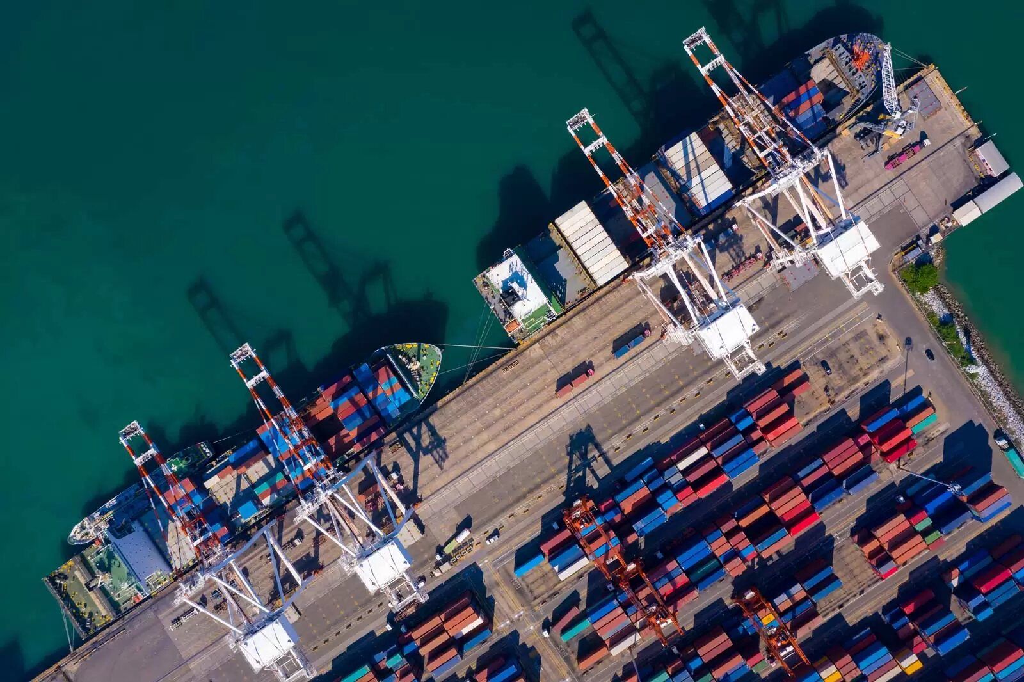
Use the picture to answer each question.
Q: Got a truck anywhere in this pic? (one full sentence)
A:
Yes, there's a truck down there.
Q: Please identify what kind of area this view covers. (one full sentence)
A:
The area seen from above is a port.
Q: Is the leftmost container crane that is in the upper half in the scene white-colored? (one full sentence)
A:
Yes, the leftmost container crane that is in the upper half is white.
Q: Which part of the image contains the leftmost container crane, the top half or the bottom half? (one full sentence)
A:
The bottom half of the photo is where the leftmost container crane is.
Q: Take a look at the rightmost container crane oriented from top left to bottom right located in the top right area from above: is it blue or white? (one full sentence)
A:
In this view, the rightmost container crane oriented from top left to bottom right located in the top right area is white.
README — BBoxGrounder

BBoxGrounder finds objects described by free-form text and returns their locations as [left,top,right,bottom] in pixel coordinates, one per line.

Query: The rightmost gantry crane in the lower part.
[730,582,815,680]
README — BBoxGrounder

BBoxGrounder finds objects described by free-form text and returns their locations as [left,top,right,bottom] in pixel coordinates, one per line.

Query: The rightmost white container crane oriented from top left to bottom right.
[684,25,891,297]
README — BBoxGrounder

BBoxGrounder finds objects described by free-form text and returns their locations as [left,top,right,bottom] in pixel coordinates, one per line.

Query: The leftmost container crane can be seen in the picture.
[119,420,320,682]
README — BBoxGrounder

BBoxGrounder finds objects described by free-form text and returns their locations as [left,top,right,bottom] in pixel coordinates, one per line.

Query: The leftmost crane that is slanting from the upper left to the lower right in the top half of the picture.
[566,106,772,378]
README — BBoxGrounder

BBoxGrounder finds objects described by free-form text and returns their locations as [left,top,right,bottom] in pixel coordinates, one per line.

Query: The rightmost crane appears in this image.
[863,42,928,159]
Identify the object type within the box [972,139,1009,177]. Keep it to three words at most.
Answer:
shed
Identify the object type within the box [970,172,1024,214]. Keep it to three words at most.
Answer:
shed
